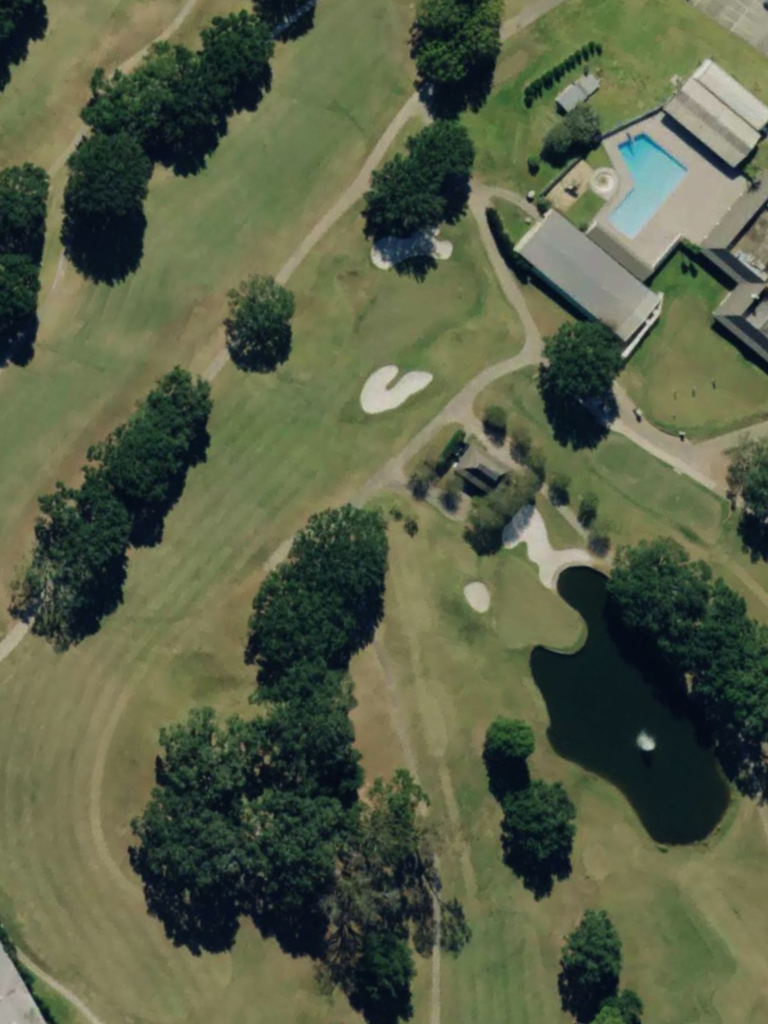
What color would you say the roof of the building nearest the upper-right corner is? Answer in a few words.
white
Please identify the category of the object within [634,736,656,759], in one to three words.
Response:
fountain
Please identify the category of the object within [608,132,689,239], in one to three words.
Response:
swimming pool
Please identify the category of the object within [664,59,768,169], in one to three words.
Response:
building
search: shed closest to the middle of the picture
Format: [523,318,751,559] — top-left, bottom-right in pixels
[456,444,510,493]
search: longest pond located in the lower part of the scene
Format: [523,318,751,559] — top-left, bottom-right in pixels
[529,566,731,846]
